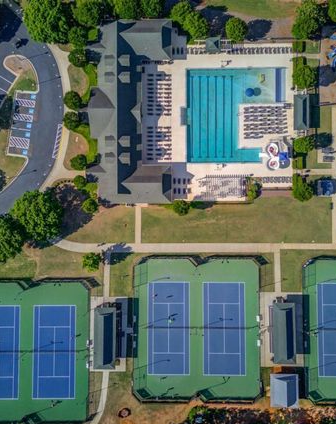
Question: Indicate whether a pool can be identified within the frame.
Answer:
Yes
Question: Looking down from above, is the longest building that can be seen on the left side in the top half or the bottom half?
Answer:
top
